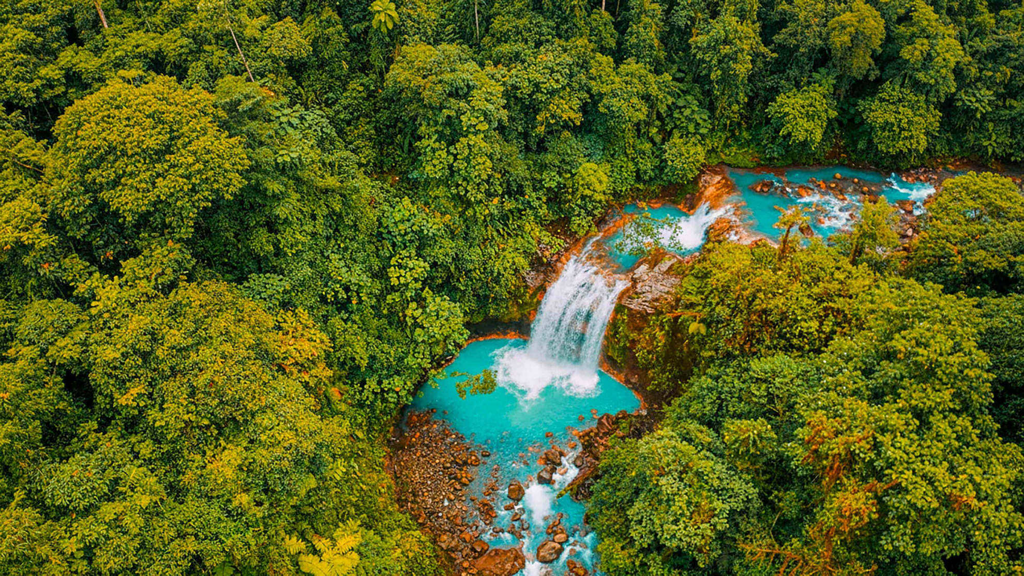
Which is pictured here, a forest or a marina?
forest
